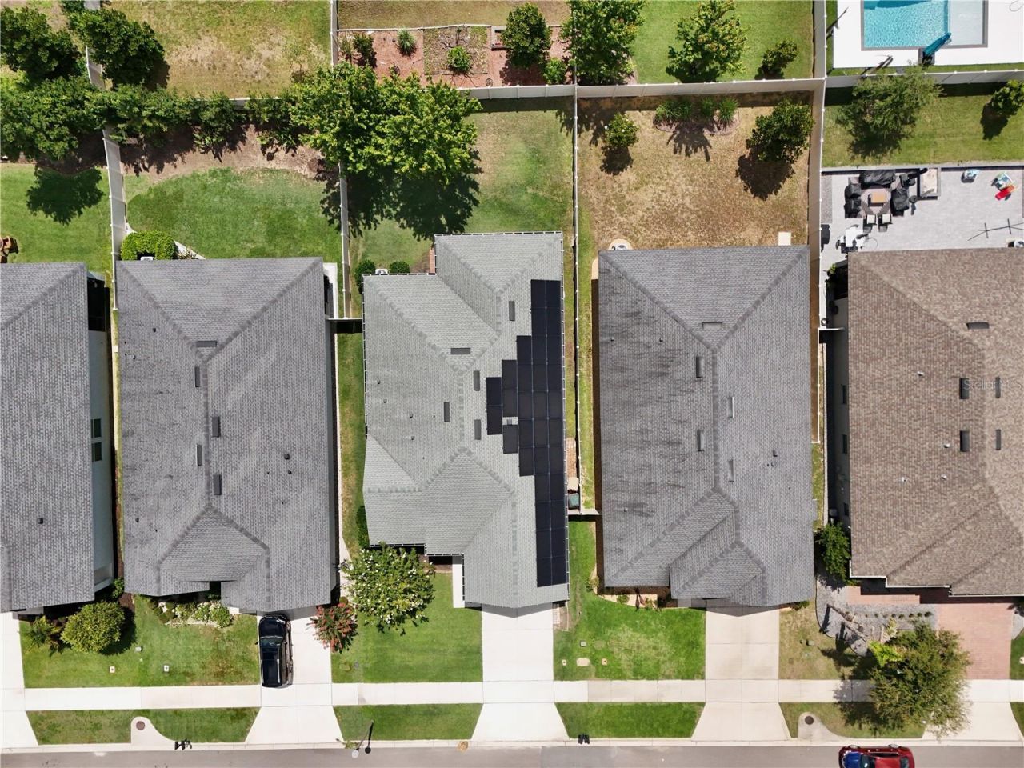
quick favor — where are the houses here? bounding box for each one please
[597,245,817,607]
[834,246,1024,598]
[0,261,115,614]
[361,230,571,608]
[114,256,337,614]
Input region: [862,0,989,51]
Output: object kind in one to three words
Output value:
swimming pool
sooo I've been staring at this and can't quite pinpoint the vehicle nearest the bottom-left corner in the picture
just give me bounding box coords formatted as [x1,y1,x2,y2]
[255,613,292,687]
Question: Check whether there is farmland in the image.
No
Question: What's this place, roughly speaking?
residential area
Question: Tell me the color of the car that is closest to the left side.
black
